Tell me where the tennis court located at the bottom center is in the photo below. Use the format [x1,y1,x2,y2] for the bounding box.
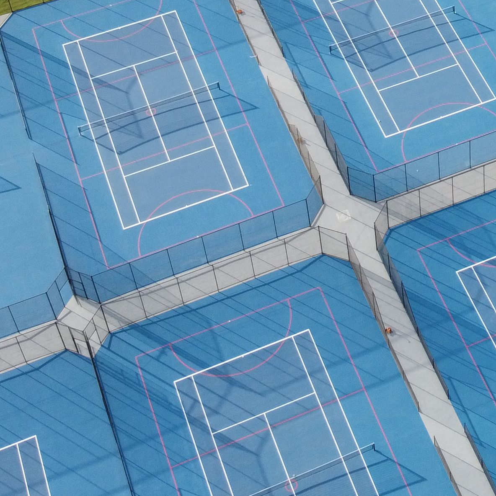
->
[92,253,457,496]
